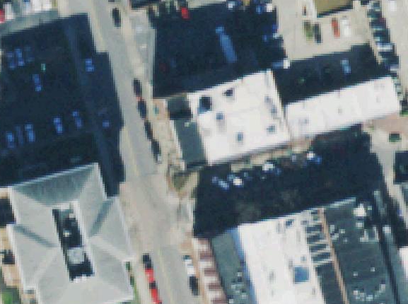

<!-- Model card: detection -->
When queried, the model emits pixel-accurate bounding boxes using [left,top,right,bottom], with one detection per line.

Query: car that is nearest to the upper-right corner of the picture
[386,0,399,18]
